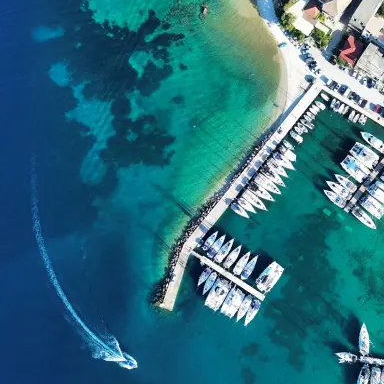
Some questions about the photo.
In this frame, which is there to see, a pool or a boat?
boat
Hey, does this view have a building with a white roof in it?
Yes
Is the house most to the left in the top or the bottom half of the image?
top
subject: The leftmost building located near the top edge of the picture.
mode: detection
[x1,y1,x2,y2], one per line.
[291,0,329,39]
